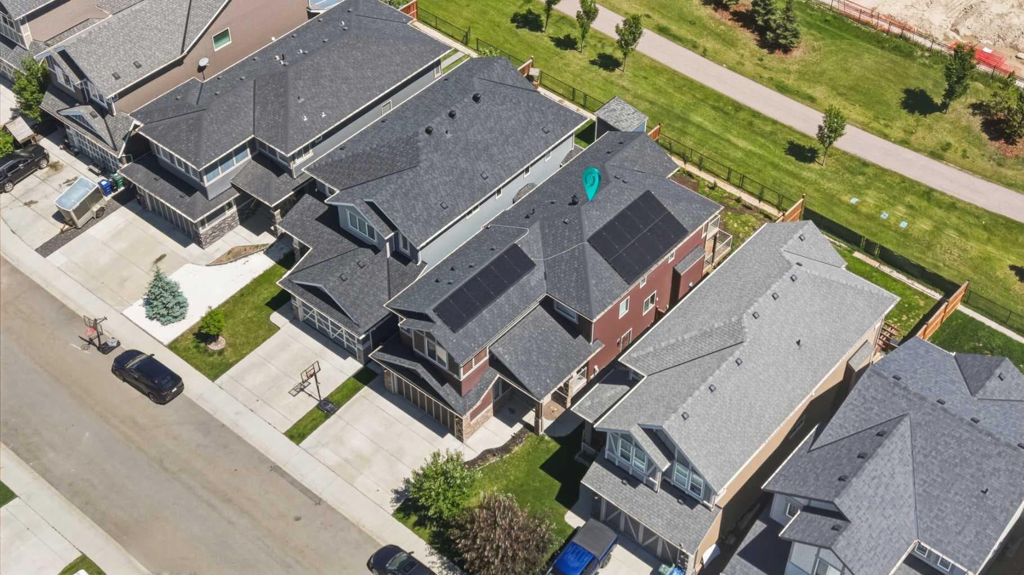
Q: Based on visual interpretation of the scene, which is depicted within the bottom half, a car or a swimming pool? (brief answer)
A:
car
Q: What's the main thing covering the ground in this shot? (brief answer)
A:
buildings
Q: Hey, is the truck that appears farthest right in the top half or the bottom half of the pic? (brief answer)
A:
bottom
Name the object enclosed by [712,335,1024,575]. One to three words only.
house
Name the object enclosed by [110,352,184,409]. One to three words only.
car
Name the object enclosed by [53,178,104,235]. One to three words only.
trailer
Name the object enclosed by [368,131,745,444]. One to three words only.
house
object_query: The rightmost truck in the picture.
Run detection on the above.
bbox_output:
[536,519,623,575]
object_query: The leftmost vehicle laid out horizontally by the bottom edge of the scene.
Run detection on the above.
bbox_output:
[370,545,435,575]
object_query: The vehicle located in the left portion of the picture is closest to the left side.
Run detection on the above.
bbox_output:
[0,143,50,189]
